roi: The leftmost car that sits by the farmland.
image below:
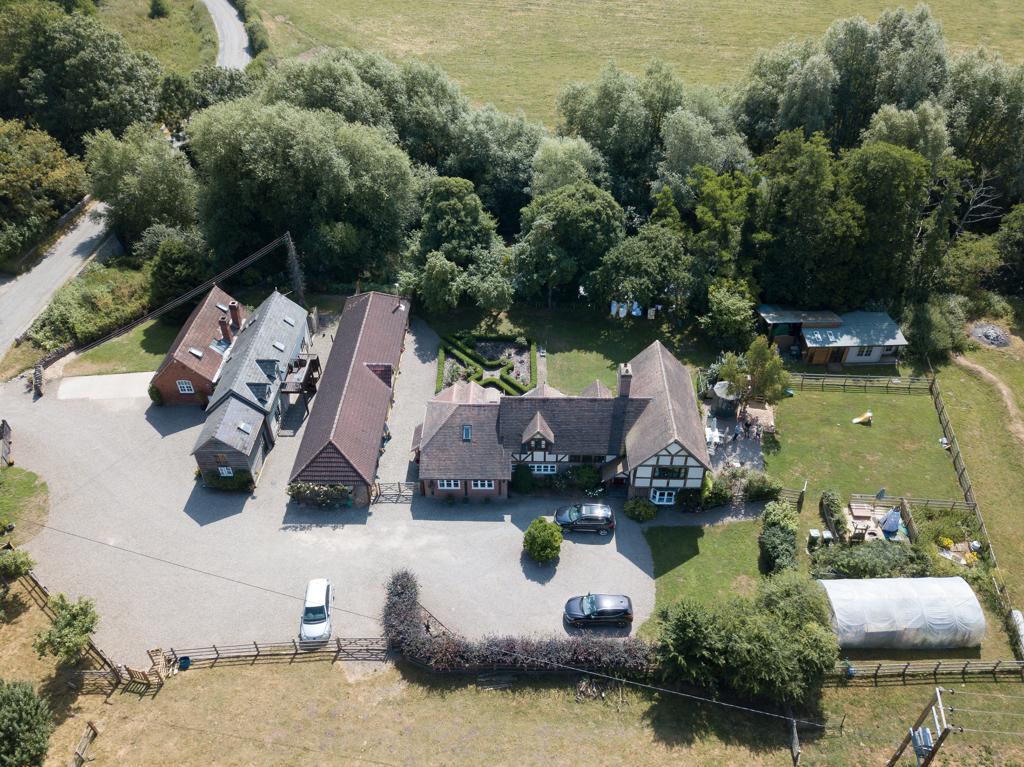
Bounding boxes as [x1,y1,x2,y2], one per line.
[298,579,336,644]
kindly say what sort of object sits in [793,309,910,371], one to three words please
building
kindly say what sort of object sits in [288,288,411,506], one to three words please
barn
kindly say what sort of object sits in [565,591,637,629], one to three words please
car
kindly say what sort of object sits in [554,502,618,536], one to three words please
car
